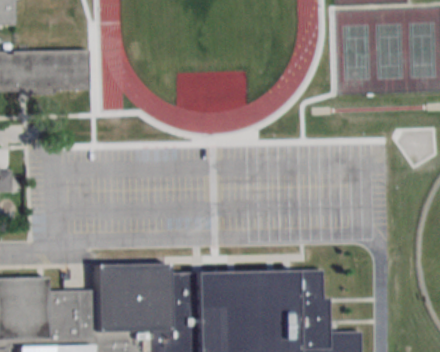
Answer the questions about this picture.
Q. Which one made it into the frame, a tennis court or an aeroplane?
tennis court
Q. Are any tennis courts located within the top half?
Yes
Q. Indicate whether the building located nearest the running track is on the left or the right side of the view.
left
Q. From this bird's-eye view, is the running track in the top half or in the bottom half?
top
